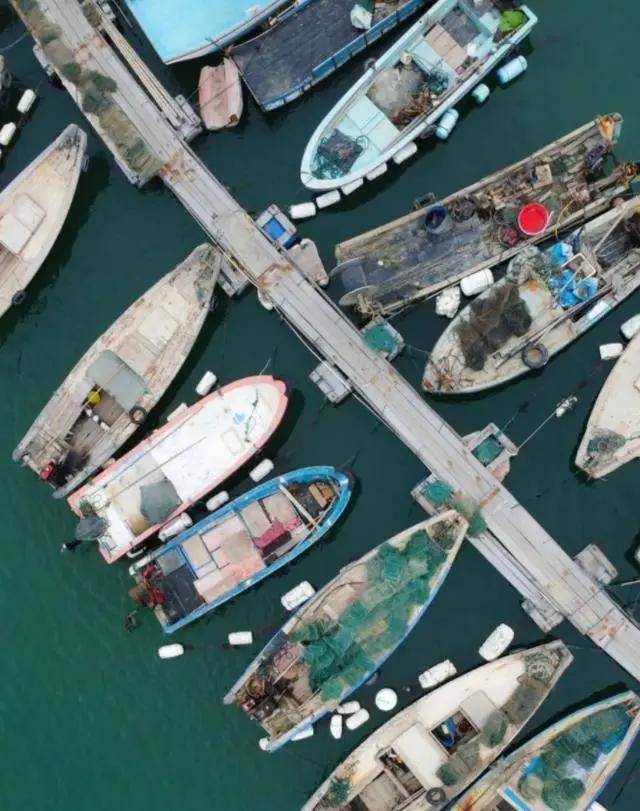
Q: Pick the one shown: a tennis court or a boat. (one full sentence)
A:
Looking from above, you can make out a boat.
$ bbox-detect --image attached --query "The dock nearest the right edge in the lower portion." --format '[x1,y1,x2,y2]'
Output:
[572,543,616,584]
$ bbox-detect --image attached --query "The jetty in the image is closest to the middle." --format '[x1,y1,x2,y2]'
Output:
[309,363,352,404]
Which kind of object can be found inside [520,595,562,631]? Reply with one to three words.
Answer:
pier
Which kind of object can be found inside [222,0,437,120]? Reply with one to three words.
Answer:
boat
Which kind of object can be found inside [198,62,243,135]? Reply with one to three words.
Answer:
boat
